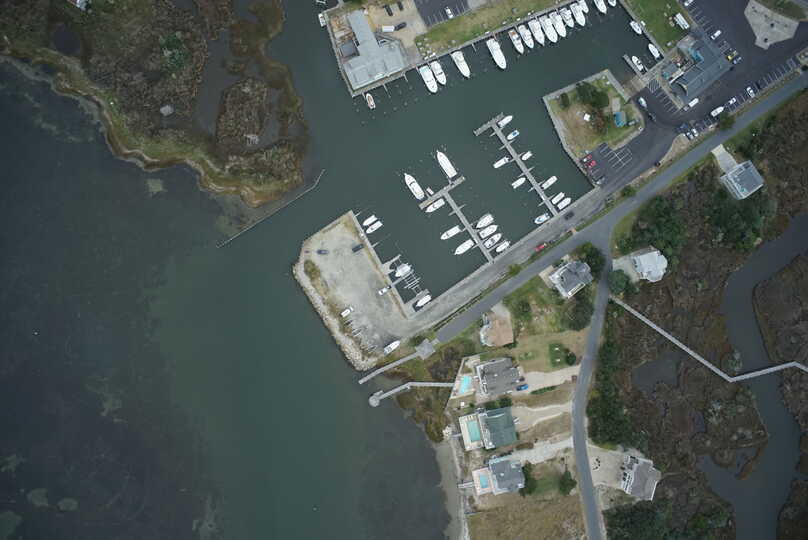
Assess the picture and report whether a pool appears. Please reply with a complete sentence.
Yes, the image includes a pool.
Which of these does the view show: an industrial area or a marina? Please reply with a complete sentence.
The area seen from above is a marina.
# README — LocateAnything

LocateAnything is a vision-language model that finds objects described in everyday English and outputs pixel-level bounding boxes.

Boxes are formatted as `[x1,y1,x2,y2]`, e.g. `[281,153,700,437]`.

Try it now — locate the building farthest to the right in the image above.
[718,160,766,201]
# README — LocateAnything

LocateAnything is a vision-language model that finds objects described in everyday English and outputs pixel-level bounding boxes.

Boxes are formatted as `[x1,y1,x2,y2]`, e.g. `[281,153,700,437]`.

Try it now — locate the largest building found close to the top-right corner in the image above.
[670,33,733,103]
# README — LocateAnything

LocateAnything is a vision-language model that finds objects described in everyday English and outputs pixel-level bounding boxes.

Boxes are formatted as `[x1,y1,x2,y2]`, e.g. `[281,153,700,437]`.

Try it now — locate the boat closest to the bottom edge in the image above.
[383,342,400,355]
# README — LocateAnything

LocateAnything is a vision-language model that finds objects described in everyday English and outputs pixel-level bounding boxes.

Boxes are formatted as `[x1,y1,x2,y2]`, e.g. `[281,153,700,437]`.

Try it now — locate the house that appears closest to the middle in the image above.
[479,311,516,347]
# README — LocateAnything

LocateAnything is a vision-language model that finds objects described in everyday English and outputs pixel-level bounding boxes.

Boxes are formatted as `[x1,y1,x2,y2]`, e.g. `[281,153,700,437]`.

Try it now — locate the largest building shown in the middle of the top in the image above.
[344,6,407,90]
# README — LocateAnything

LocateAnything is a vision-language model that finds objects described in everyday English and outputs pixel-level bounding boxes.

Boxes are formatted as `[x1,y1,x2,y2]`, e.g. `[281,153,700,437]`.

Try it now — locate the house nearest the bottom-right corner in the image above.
[619,454,663,501]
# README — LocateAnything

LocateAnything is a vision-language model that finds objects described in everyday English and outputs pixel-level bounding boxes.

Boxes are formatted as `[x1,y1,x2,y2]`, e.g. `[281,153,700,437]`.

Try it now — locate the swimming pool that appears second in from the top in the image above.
[459,414,484,451]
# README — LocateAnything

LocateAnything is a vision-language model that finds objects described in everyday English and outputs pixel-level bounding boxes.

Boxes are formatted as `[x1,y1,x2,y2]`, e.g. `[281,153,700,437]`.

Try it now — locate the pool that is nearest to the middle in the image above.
[451,358,479,399]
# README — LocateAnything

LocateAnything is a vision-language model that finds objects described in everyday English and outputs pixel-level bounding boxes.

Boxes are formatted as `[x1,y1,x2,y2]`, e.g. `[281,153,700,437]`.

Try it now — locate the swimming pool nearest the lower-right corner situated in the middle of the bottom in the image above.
[473,468,495,496]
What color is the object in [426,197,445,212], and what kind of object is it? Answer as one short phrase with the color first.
white boat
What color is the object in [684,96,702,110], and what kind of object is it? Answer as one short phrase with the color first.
white vehicle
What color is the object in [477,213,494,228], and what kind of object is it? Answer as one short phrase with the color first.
white boat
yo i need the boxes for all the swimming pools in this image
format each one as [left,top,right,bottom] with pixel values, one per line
[473,468,495,496]
[459,414,484,451]
[451,358,479,399]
